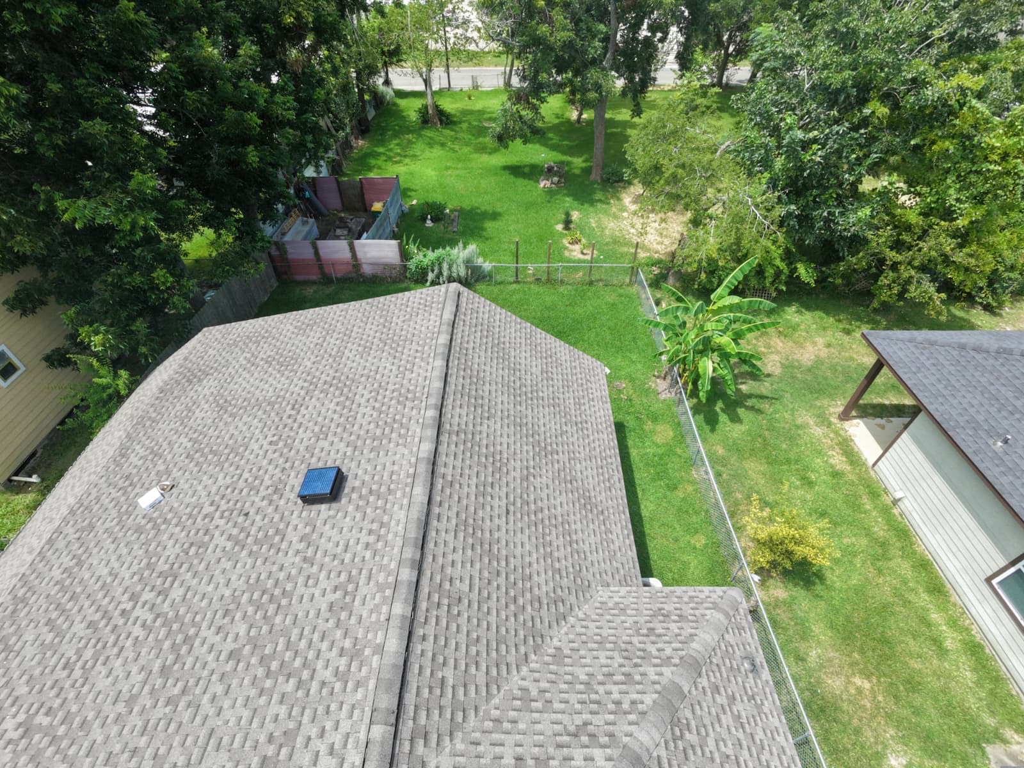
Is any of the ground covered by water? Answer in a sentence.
No, no water is visible.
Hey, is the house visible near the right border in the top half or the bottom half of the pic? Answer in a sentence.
You can find the house visible near the right border in the bottom half.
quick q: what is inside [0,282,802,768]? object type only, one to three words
house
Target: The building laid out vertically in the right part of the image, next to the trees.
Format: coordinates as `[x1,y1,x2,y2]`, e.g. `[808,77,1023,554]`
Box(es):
[843,330,1024,705]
